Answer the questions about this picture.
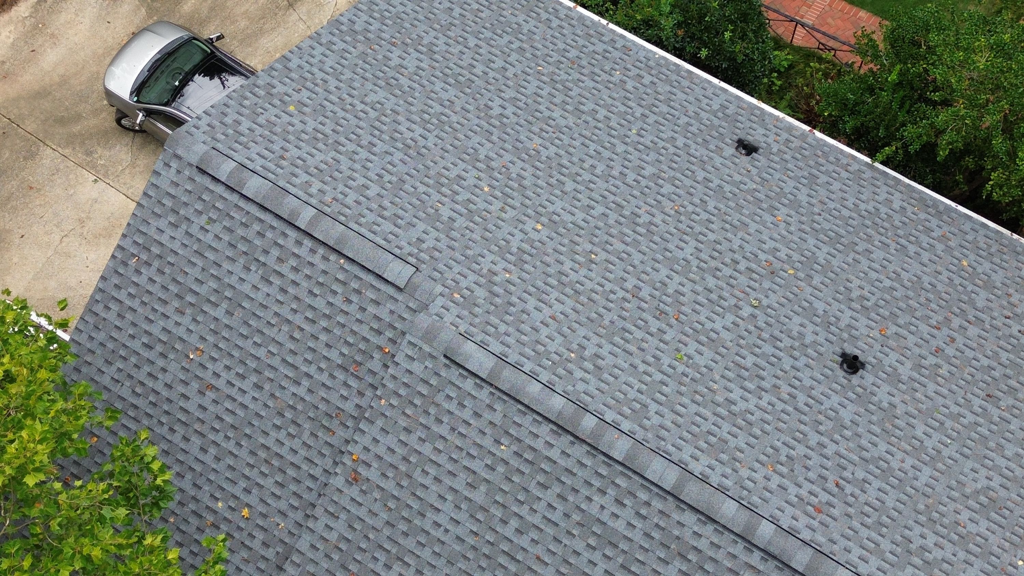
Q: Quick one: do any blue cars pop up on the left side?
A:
No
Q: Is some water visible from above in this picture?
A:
No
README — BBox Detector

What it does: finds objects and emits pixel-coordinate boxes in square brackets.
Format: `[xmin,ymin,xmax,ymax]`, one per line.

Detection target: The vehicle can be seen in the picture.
[100,26,260,144]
